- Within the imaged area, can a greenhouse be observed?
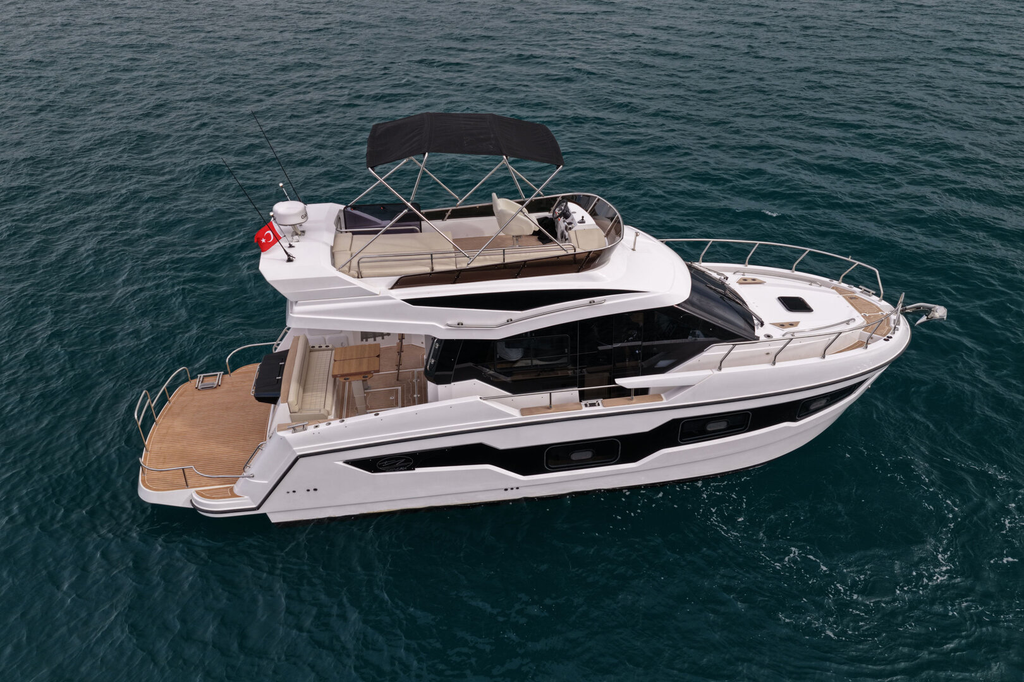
No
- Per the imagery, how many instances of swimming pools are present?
0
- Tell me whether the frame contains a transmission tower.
No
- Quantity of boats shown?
1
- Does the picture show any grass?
No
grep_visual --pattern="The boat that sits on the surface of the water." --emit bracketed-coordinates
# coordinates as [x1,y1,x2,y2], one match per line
[135,109,916,528]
